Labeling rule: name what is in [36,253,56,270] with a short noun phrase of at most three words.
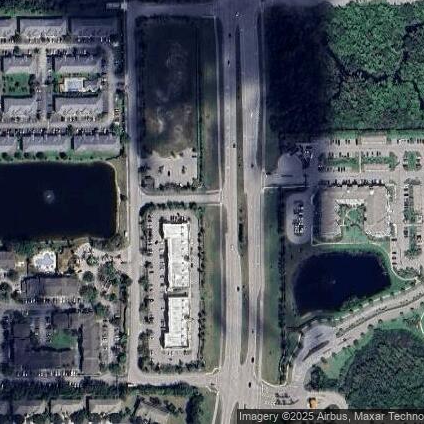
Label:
swimming pool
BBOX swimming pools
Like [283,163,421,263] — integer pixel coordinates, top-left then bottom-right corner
[36,253,56,270]
[65,78,83,91]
